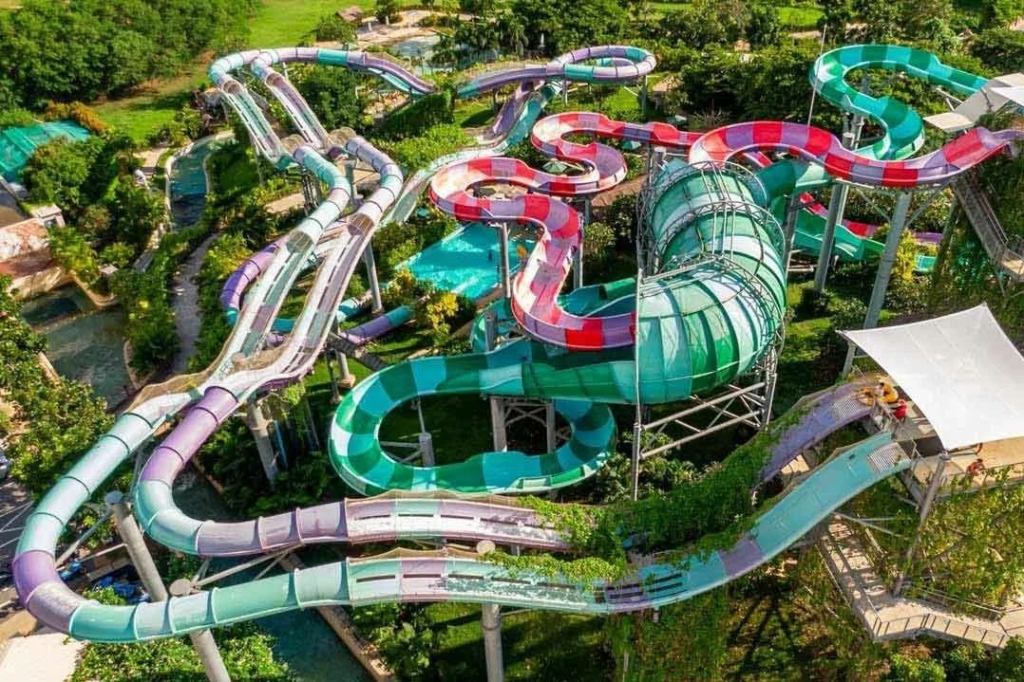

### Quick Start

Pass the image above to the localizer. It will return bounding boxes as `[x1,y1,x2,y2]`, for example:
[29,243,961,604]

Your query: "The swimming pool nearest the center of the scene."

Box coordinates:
[391,225,536,302]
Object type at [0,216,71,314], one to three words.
house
